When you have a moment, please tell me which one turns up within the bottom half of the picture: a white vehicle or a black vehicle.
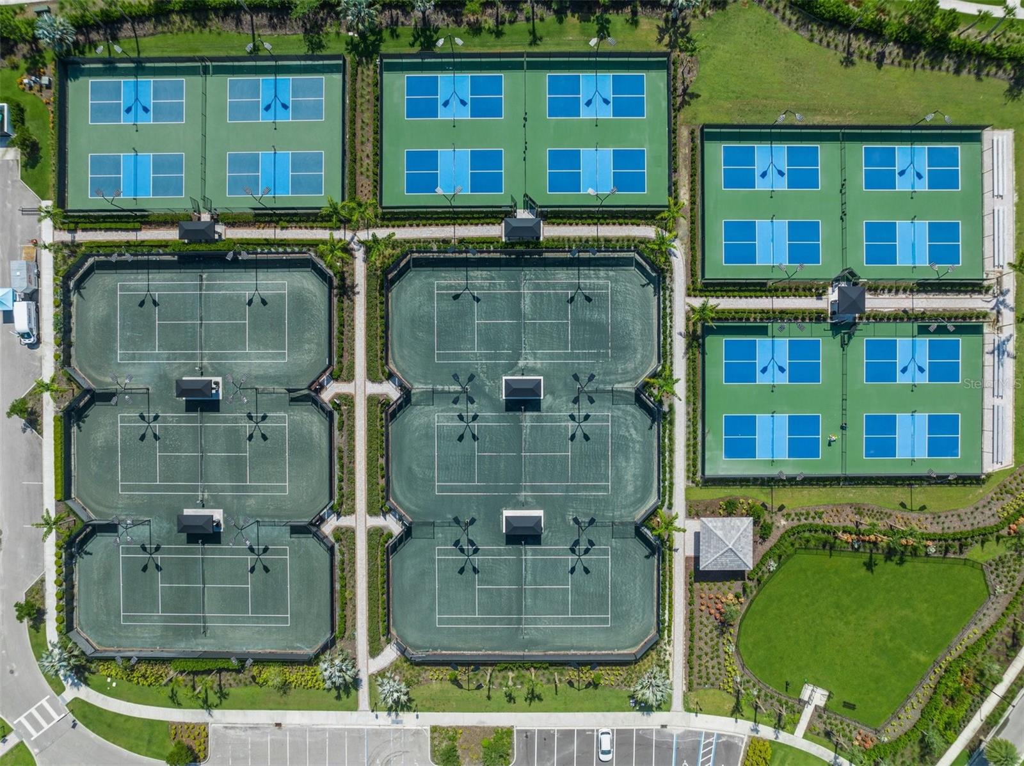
white vehicle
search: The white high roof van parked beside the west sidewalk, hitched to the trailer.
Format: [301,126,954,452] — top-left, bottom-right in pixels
[12,300,39,346]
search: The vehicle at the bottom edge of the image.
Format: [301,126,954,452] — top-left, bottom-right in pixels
[597,729,613,764]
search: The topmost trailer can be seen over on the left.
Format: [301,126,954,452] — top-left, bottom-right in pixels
[13,247,39,300]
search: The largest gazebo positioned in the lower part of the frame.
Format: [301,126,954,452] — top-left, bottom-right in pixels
[698,516,754,571]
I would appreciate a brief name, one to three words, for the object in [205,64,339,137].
sports court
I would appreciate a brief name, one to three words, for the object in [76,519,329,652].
tennis court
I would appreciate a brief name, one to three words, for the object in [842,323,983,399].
sports court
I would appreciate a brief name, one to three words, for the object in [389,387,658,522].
tennis court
